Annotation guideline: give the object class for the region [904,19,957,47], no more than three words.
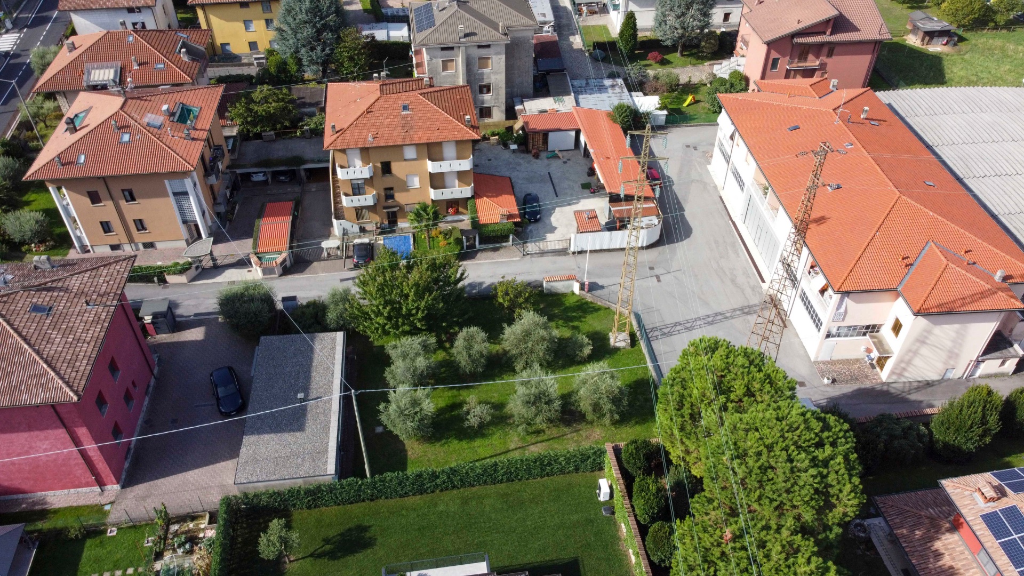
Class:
barn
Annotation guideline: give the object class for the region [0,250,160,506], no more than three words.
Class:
house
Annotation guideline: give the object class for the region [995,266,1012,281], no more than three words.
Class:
chimney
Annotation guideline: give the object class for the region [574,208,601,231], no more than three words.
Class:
shed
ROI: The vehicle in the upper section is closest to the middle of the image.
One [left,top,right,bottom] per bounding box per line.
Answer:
[521,194,544,223]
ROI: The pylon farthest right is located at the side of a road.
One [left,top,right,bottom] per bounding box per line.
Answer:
[705,141,854,456]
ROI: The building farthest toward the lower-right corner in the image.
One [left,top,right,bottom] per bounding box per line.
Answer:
[871,465,1024,576]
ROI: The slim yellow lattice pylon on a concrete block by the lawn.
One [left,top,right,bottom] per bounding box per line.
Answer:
[609,126,669,350]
